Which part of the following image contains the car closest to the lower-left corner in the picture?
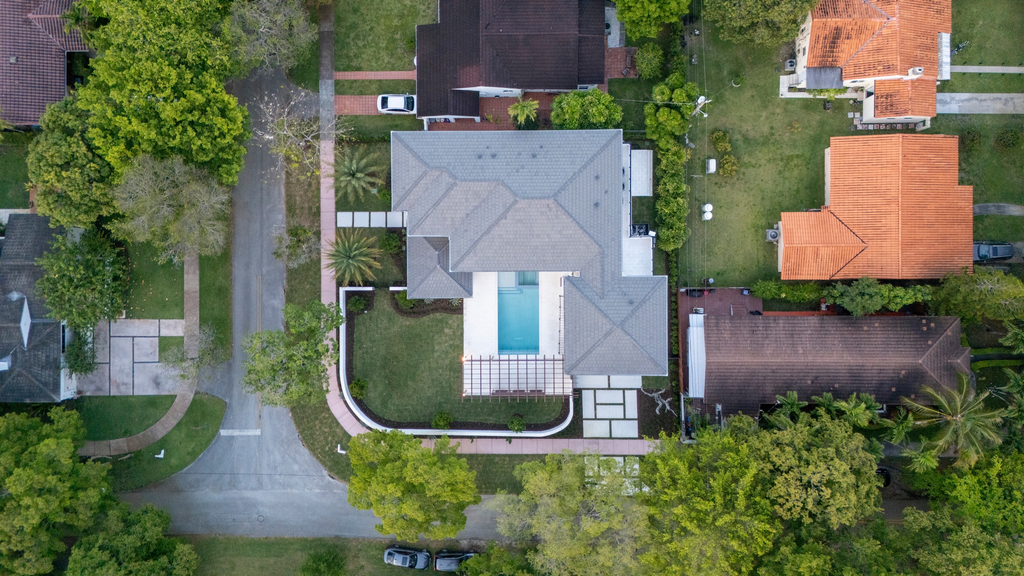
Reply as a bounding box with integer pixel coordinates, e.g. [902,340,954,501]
[383,545,428,571]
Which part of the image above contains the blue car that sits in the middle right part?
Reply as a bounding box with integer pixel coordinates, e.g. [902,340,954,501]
[967,241,1016,263]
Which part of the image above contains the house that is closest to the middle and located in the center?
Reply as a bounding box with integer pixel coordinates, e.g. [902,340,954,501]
[390,128,668,377]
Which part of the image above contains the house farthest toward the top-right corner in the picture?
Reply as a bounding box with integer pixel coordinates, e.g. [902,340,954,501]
[786,0,961,132]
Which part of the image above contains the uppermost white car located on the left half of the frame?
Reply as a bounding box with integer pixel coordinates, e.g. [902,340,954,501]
[375,92,415,114]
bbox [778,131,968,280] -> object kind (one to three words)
house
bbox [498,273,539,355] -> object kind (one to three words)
swimming pool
